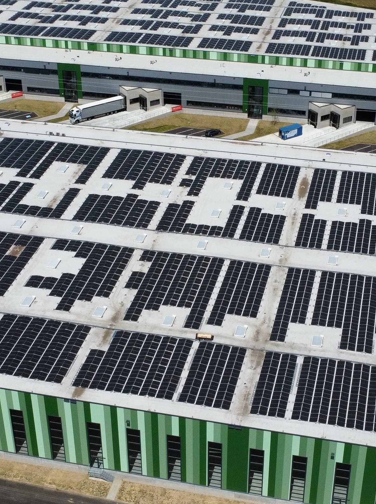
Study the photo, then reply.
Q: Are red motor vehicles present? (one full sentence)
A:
No, this view has no red motor vehicle in it.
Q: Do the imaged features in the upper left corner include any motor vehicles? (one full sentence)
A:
Yes, looking in the upper left corner, one can make out a motor vehicle.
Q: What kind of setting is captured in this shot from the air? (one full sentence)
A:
It's an industrial area.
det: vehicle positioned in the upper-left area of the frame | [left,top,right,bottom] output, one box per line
[66,95,123,123]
